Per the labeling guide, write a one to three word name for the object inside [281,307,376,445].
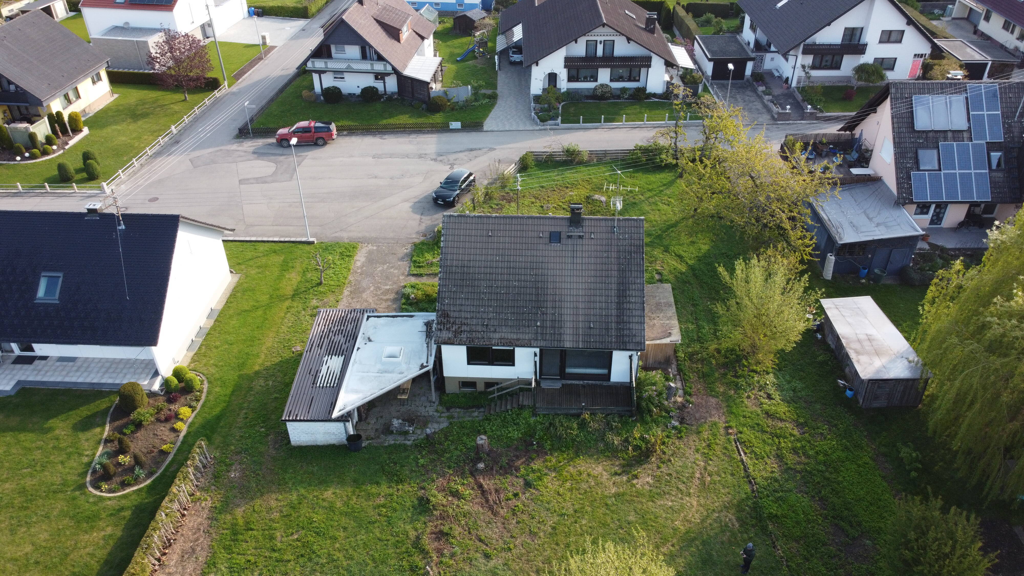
building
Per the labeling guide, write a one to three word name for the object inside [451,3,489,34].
shed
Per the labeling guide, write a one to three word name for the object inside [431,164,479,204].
car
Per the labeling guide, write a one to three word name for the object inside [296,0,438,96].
house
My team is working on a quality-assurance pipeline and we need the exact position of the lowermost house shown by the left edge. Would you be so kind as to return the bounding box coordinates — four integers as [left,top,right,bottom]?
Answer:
[0,201,236,374]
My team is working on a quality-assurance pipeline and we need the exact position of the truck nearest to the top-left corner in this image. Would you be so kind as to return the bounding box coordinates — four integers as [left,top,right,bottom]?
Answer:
[272,116,337,146]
